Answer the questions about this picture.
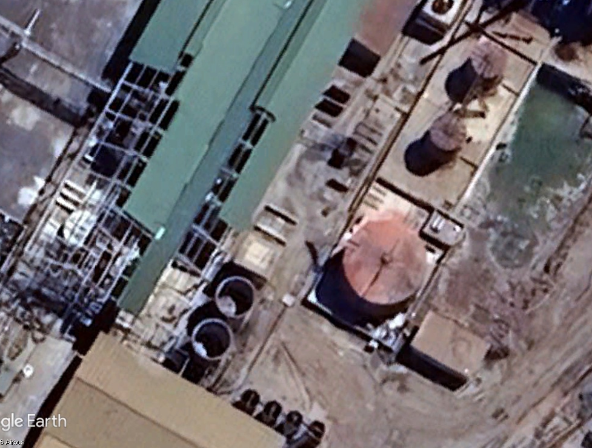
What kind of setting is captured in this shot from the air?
industrial area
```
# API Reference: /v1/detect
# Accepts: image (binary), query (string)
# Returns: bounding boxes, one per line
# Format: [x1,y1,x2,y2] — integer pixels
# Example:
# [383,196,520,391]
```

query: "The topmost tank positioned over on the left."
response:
[207,276,255,326]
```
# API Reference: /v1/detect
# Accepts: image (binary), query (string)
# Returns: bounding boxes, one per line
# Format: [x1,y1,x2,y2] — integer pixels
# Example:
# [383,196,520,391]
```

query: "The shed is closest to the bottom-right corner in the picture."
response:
[410,310,490,381]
